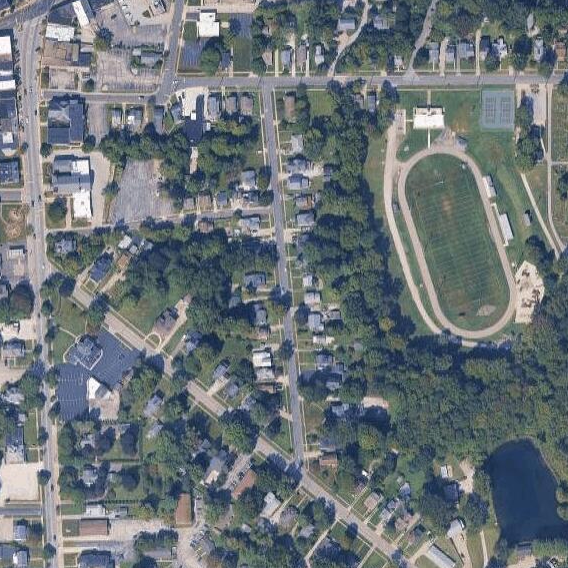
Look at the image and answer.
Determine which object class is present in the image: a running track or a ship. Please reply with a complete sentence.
It is a running track that can be seen here.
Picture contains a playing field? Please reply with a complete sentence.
Yes, the image includes a playing field.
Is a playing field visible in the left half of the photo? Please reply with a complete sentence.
No, I can find no playing field in the left half of the photo.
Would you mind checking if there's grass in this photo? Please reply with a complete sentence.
Yes, grass can be seen from above here.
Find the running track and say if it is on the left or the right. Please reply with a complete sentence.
It is on the right.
